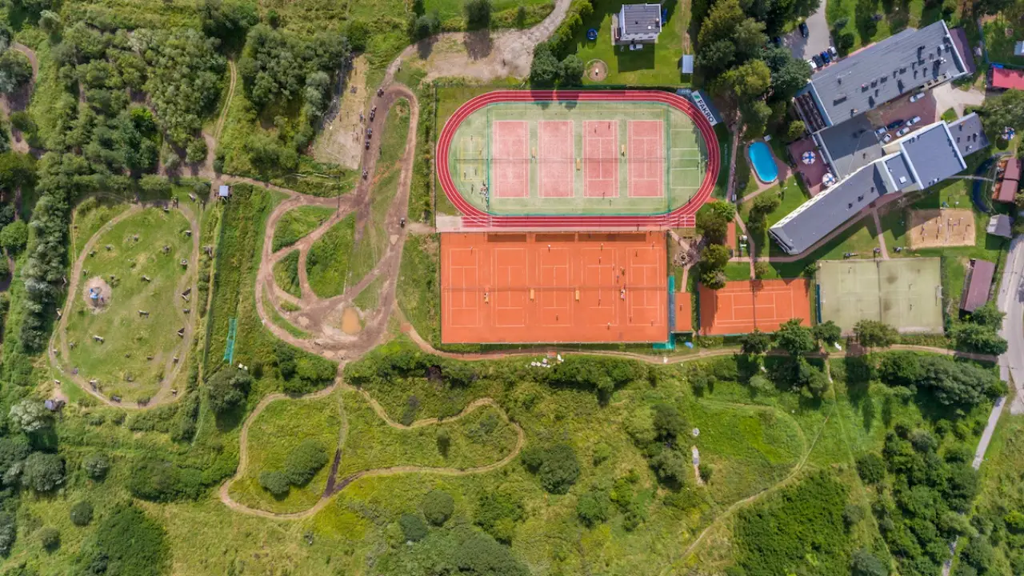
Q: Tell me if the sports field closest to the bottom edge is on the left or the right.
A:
right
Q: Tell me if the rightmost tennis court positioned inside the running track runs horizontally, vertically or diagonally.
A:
vertically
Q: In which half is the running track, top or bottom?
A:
top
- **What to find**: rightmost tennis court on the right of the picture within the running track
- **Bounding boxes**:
[626,120,667,198]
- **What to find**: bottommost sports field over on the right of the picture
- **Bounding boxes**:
[816,257,945,336]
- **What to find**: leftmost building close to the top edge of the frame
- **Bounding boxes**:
[621,3,662,42]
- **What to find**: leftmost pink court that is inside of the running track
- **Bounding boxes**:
[490,120,531,198]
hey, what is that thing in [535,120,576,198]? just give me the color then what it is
pink tennis court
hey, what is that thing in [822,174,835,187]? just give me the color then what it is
white umbrella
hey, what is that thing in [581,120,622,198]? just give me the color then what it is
pink tennis court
